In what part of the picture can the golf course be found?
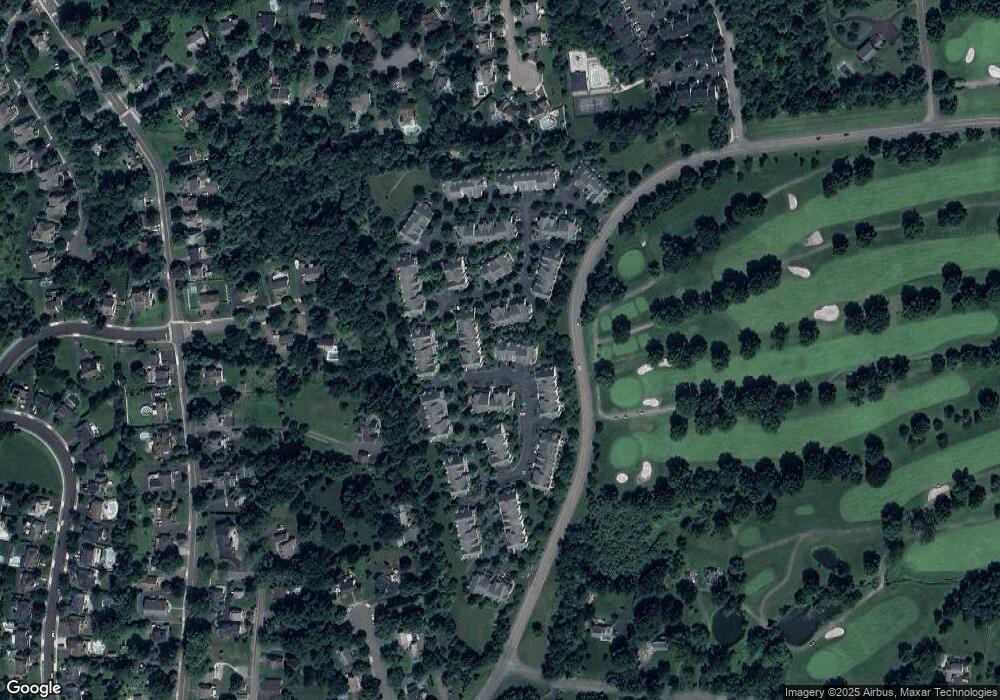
right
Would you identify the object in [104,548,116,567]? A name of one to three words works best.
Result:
swimming pool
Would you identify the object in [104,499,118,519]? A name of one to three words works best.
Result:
swimming pool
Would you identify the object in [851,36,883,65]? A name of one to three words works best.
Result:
barn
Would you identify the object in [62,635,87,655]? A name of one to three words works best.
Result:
house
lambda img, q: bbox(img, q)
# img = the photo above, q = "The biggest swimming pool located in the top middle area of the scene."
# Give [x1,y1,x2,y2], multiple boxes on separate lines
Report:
[588,58,609,89]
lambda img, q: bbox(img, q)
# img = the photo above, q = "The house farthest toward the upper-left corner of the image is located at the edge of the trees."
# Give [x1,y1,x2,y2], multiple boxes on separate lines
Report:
[30,28,51,51]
